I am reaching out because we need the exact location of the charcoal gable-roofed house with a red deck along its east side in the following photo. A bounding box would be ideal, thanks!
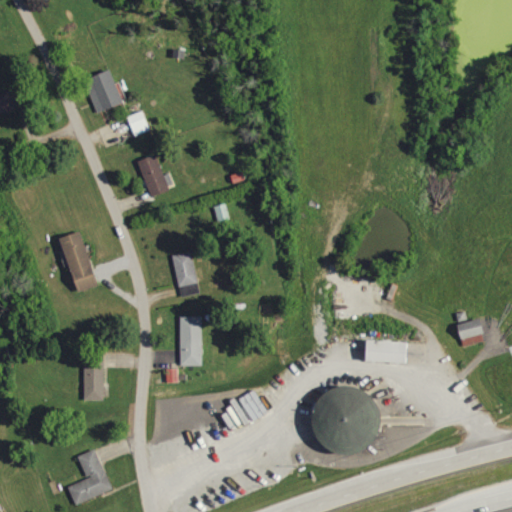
[87,70,123,112]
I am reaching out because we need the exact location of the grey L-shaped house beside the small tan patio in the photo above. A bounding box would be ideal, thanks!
[68,446,112,504]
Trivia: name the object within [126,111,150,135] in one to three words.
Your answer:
building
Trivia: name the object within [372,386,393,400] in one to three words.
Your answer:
vehicle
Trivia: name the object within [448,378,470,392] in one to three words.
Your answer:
vehicle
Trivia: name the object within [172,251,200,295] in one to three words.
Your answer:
house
